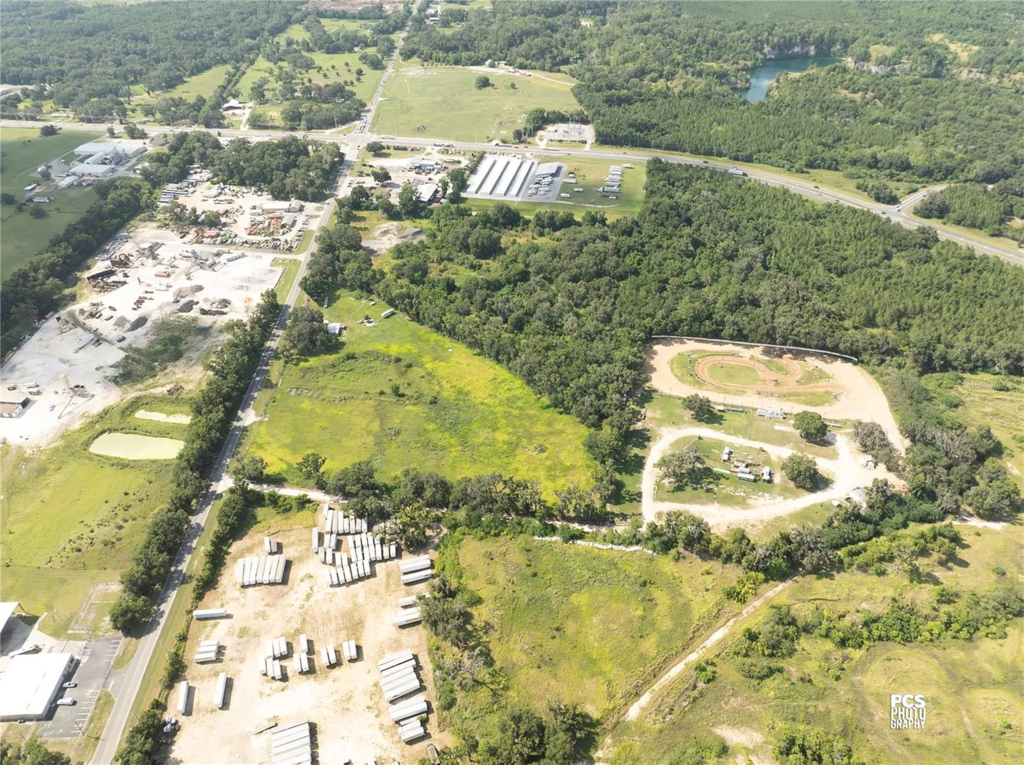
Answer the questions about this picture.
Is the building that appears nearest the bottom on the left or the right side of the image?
left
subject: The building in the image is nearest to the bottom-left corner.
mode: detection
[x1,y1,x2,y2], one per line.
[0,652,79,724]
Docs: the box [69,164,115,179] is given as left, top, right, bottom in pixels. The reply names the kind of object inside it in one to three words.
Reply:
building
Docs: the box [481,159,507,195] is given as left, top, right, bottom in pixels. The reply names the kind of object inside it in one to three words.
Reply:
building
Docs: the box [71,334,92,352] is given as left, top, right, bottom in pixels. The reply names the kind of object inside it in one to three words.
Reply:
vehicle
